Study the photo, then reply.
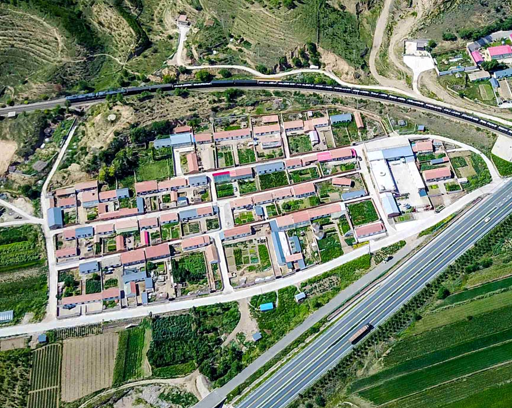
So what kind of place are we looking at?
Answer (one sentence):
It's a residential area.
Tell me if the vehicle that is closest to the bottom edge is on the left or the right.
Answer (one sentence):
The vehicle that is closest to the bottom edge is on the right side of the image.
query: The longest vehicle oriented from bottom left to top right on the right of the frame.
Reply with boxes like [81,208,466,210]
[349,322,372,343]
